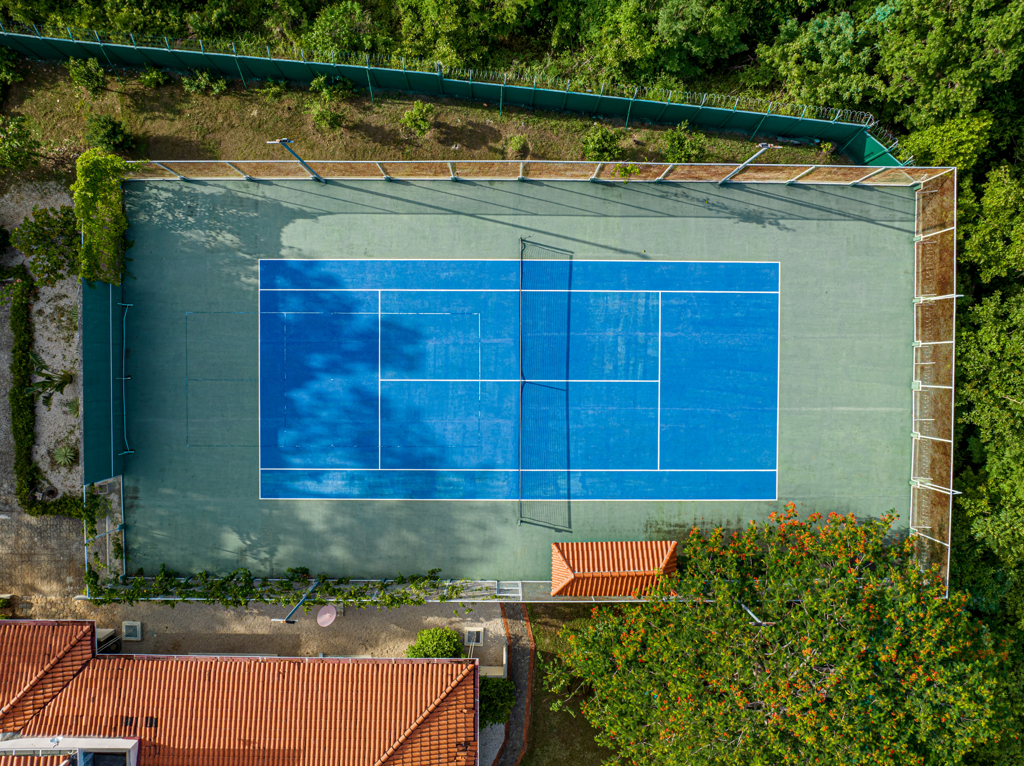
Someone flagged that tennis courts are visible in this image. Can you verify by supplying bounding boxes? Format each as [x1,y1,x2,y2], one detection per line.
[119,174,926,585]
